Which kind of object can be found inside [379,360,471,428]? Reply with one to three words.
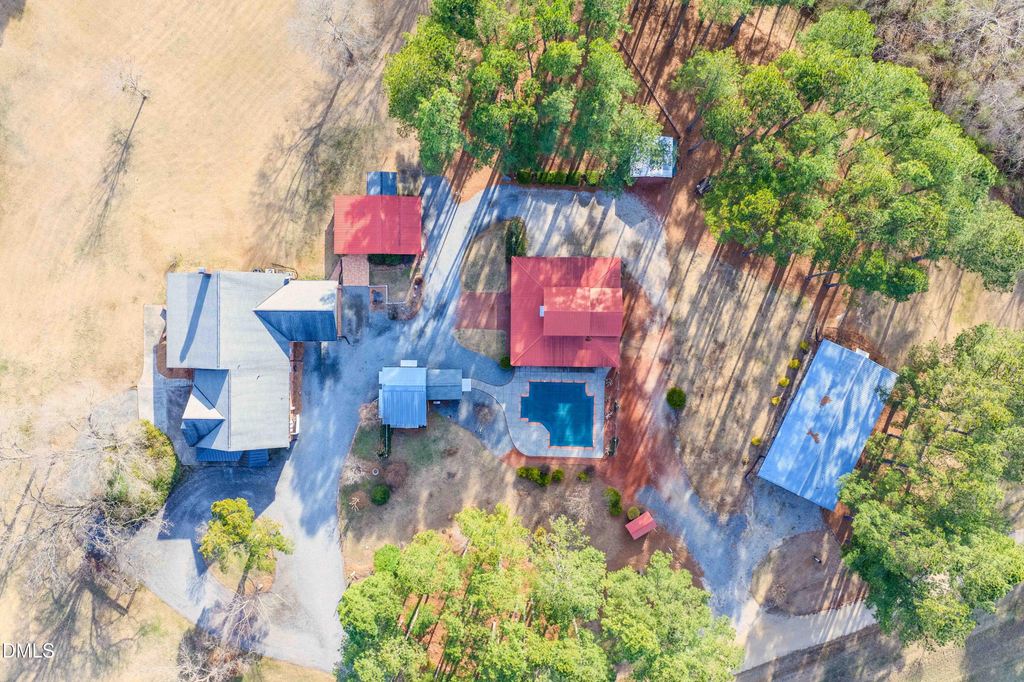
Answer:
shed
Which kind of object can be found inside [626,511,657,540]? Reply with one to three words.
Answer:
shed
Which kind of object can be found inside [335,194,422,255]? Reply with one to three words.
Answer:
building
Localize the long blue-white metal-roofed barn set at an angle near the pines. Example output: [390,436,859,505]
[753,339,896,511]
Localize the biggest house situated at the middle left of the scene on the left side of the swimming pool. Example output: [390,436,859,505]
[166,268,342,468]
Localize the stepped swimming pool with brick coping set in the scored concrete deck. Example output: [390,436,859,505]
[518,380,596,450]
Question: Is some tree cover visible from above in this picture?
Yes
